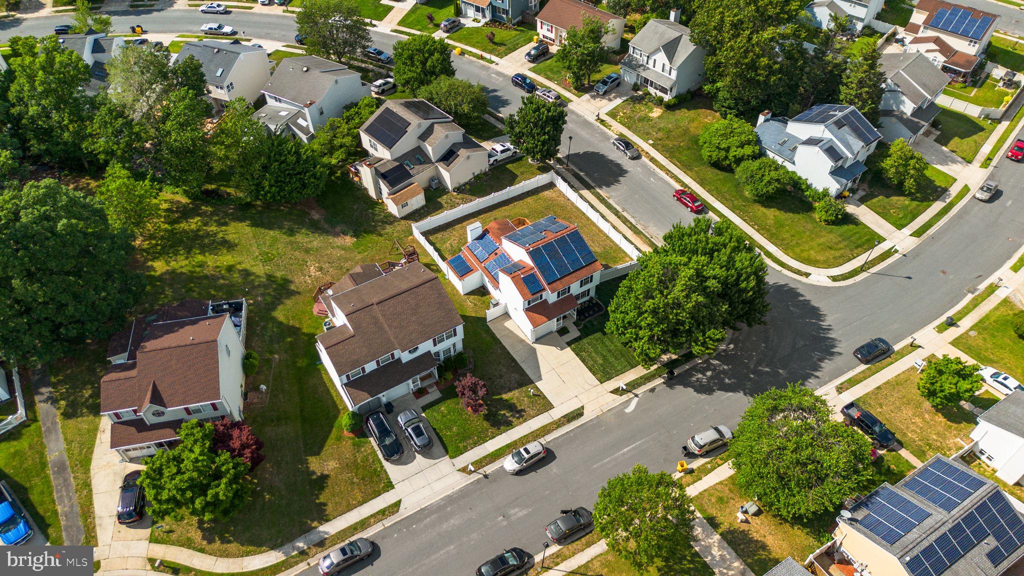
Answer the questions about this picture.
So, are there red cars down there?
Yes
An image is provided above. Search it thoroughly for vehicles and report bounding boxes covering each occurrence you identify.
[836,396,902,451]
[399,409,435,453]
[199,4,227,16]
[542,506,597,546]
[851,338,894,364]
[438,17,463,33]
[366,48,392,63]
[672,189,707,213]
[535,86,565,103]
[202,25,232,37]
[259,0,271,5]
[972,179,1002,202]
[473,544,532,576]
[275,0,288,5]
[510,71,537,92]
[292,36,318,50]
[365,412,400,459]
[115,469,146,524]
[1007,133,1024,157]
[47,23,81,35]
[370,77,398,94]
[489,143,522,165]
[596,71,621,93]
[317,536,377,576]
[685,424,735,456]
[248,41,266,55]
[526,41,549,61]
[610,138,642,159]
[502,438,549,475]
[977,366,1024,401]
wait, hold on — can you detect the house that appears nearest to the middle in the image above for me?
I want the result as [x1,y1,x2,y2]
[444,216,604,343]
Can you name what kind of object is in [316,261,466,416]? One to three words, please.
house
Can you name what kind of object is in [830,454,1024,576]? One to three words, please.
house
